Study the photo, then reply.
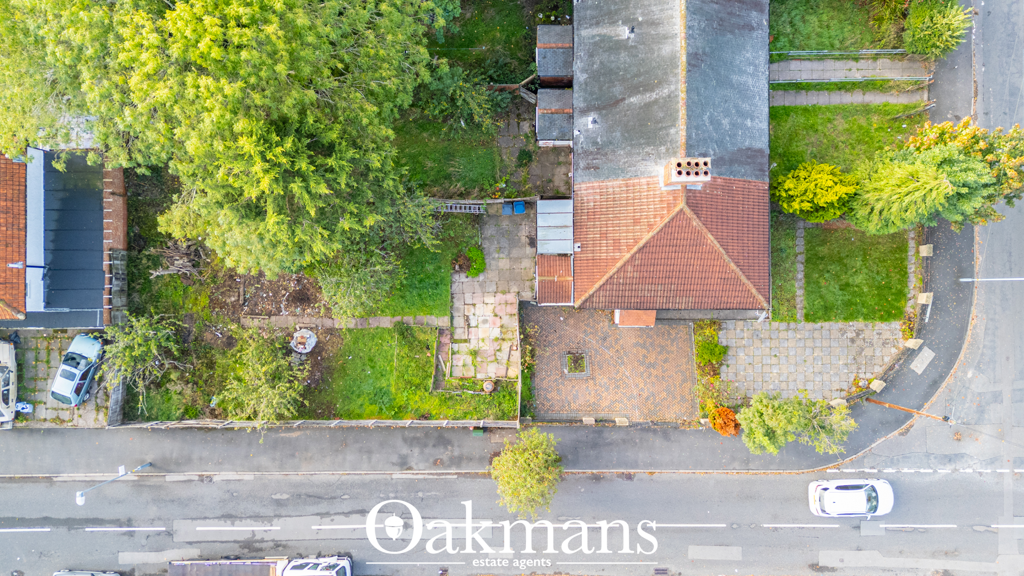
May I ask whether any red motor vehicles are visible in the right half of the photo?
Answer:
No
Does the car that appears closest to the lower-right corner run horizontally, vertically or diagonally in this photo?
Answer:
horizontally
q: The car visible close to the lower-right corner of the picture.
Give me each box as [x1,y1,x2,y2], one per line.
[805,475,888,518]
